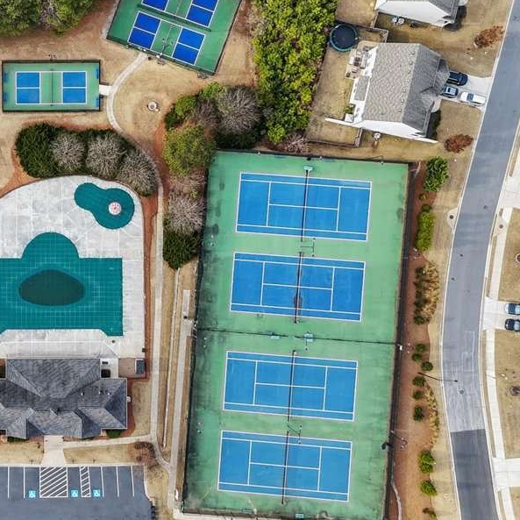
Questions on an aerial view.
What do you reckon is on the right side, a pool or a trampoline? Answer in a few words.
trampoline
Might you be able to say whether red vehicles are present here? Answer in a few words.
No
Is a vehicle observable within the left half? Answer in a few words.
No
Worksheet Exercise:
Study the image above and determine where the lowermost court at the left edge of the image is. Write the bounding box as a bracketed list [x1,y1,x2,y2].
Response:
[4,63,100,111]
